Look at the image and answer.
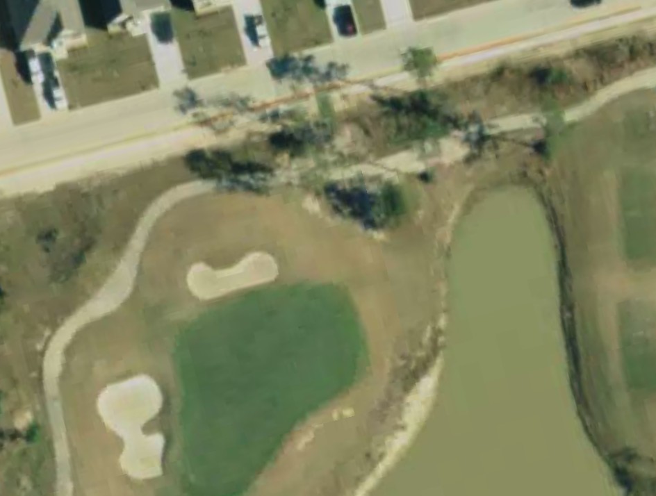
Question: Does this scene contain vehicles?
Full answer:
Yes, a vehicle is visible in the scene.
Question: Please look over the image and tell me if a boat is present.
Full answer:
No, I can't see a single boat in this photo.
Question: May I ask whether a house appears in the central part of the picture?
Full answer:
No, looking in the central part of the picture, there is no house.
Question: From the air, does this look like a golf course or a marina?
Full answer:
The area seen from above is a golf course.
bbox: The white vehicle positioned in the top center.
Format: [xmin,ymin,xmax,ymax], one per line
[252,14,269,47]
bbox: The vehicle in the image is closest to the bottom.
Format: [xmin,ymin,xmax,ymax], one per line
[52,79,68,112]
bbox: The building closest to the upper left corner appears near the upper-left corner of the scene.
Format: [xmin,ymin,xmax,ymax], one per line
[0,0,83,54]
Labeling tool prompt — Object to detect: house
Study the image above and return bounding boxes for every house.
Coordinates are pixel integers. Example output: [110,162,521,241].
[0,0,83,54]
[97,0,168,37]
[189,0,253,18]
